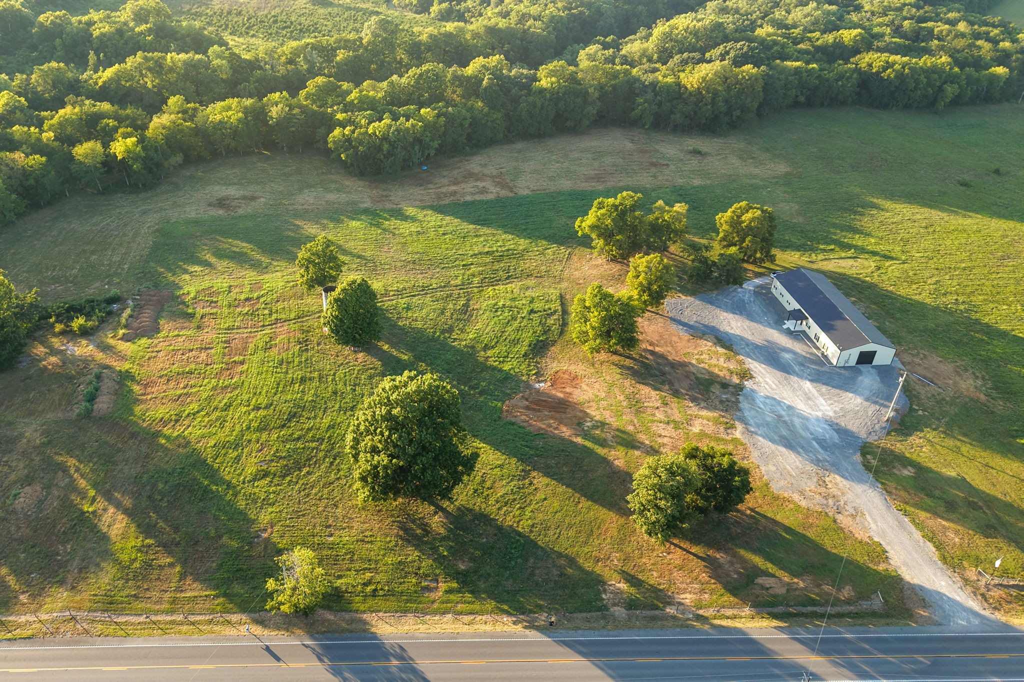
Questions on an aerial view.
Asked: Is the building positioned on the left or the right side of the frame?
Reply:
right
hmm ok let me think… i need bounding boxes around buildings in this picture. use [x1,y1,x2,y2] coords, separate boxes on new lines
[772,268,897,369]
